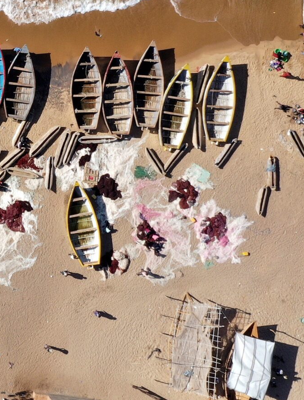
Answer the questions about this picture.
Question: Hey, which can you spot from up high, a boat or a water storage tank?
boat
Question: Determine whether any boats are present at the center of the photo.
Yes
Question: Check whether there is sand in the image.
Yes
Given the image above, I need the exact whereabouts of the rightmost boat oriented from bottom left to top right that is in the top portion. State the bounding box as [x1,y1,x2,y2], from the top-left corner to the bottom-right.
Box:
[214,138,237,168]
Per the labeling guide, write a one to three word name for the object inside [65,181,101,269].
boat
